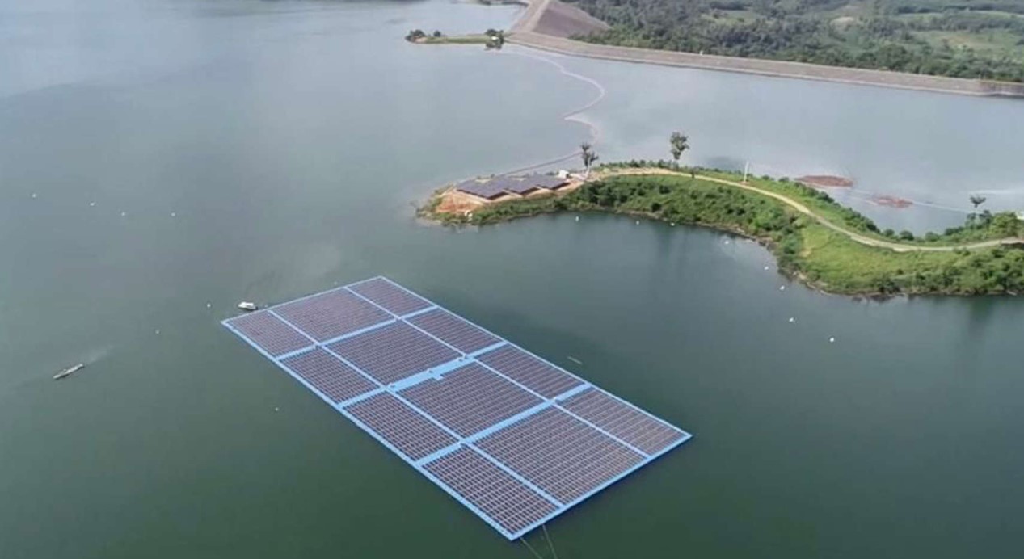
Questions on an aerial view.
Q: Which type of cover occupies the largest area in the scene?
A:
water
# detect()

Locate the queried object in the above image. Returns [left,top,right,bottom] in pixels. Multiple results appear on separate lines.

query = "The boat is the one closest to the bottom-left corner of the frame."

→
[54,363,85,377]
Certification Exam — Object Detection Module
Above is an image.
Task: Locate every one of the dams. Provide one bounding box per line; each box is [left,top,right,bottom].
[510,0,1024,95]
